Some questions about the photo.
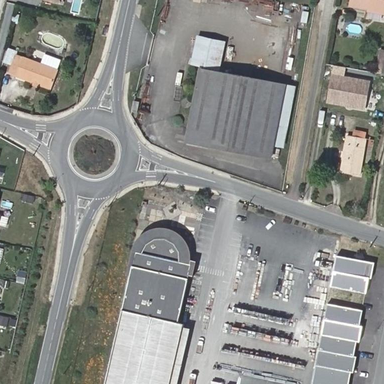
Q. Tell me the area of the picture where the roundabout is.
left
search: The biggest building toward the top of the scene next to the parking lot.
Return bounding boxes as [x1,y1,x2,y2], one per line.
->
[184,68,286,158]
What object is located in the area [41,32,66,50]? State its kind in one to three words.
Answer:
swimming pool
